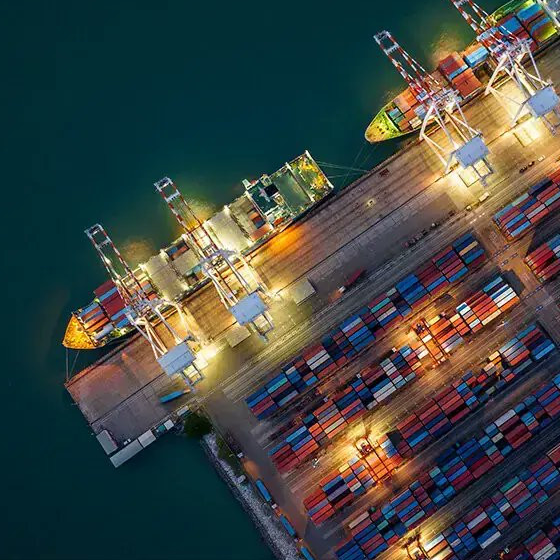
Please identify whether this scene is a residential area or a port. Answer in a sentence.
This looks like a port.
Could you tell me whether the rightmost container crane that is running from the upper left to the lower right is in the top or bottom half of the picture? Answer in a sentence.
You can find the rightmost container crane that is running from the upper left to the lower right in the top half.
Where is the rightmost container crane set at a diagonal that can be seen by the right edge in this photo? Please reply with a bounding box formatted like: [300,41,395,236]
[450,0,560,132]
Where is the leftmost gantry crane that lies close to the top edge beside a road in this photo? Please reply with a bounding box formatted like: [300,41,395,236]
[372,26,501,182]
